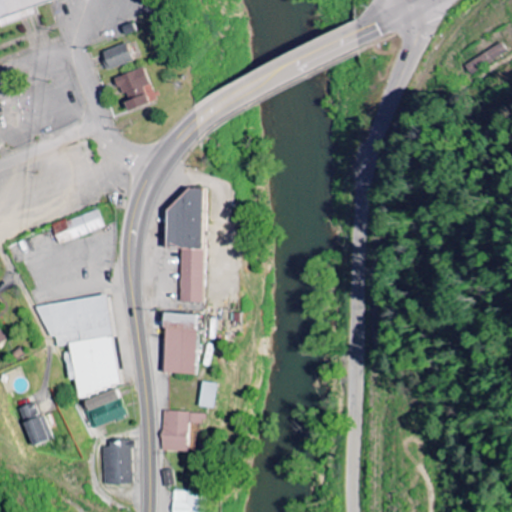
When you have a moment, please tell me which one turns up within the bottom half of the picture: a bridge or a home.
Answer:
home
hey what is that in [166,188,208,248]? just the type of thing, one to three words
building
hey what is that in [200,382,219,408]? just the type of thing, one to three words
shed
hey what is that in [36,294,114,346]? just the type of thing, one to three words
building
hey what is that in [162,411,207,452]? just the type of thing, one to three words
house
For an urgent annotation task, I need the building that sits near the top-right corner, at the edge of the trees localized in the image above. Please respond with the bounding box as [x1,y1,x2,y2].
[466,43,505,73]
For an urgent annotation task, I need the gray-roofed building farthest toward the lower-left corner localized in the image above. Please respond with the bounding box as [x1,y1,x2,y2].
[20,404,58,446]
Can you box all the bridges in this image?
[188,24,364,138]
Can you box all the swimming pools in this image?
[12,378,28,392]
